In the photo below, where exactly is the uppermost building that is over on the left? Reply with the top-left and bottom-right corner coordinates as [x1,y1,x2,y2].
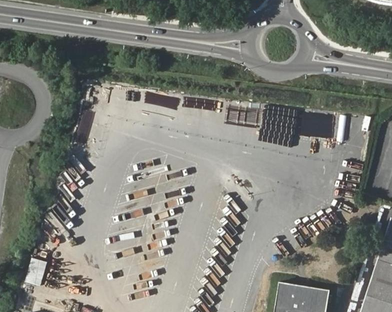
[26,259,46,286]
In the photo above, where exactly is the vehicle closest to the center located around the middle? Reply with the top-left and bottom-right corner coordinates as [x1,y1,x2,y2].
[166,168,189,180]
